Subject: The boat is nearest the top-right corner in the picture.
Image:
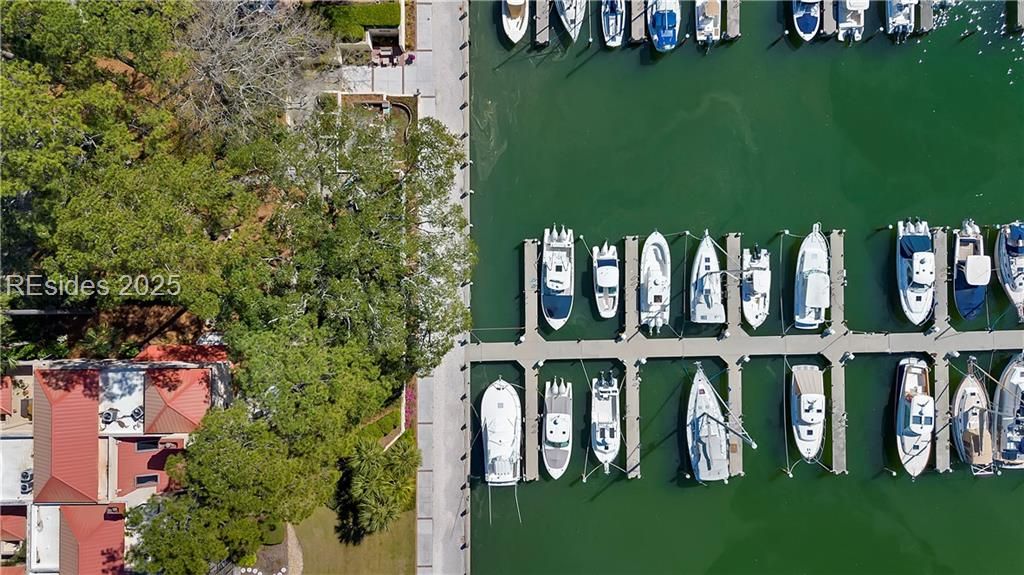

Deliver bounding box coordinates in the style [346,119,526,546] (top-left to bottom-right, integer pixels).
[883,0,916,43]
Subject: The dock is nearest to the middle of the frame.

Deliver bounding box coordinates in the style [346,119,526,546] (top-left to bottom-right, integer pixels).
[515,238,547,340]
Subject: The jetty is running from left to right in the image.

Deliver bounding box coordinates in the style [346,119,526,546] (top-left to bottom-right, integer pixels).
[471,330,1024,362]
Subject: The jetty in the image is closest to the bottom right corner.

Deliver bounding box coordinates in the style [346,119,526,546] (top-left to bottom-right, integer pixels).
[926,352,953,473]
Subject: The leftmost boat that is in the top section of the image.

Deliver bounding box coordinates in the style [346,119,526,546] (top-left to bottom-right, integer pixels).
[501,0,529,43]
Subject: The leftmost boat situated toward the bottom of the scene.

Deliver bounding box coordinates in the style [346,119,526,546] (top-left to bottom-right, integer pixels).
[479,375,523,529]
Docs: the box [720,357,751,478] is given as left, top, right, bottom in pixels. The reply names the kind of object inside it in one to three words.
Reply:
pier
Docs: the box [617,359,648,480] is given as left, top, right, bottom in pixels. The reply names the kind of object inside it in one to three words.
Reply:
pier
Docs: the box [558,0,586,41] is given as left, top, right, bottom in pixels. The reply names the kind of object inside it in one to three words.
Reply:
boat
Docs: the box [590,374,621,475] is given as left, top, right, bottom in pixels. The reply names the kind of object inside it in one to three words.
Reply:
boat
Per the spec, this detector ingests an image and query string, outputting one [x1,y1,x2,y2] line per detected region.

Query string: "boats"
[949,222,1004,321]
[741,245,771,330]
[541,223,575,330]
[600,0,625,49]
[790,222,830,332]
[889,356,932,481]
[787,363,826,466]
[558,0,586,41]
[590,374,621,475]
[479,375,523,529]
[693,0,720,52]
[689,228,762,322]
[646,0,683,55]
[501,0,529,43]
[686,361,757,486]
[949,363,1024,476]
[790,0,820,42]
[883,0,916,43]
[639,231,678,334]
[542,376,573,480]
[836,0,869,42]
[992,223,1024,327]
[892,215,936,329]
[592,242,620,319]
